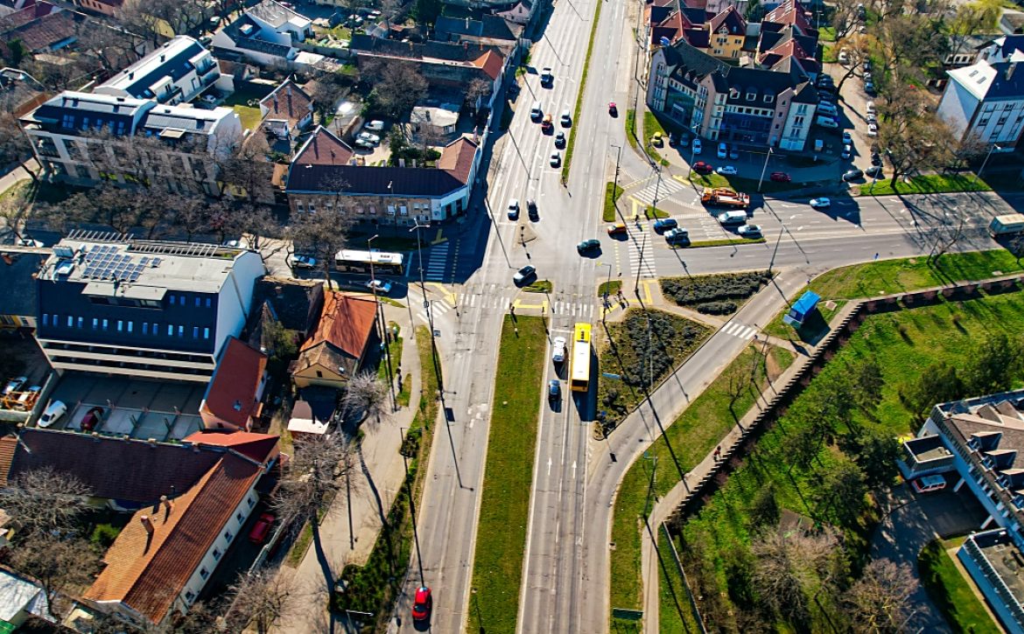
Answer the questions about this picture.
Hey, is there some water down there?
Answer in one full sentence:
No, the scene doesn't show any water.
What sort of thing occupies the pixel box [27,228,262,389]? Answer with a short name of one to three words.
building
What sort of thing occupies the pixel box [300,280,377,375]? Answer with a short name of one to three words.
house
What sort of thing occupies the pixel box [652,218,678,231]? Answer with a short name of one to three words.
vehicle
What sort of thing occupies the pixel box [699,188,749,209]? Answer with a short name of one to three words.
truck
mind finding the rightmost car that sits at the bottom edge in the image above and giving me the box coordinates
[412,587,432,624]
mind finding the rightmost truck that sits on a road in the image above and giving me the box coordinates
[993,215,1024,239]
